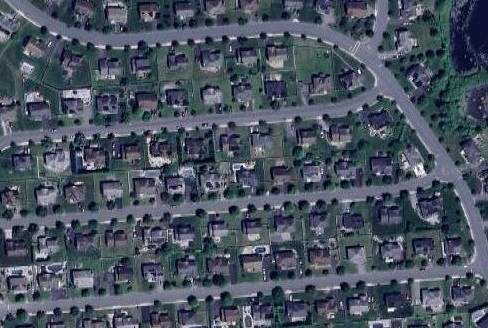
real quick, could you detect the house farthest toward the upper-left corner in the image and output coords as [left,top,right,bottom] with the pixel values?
[0,10,22,35]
